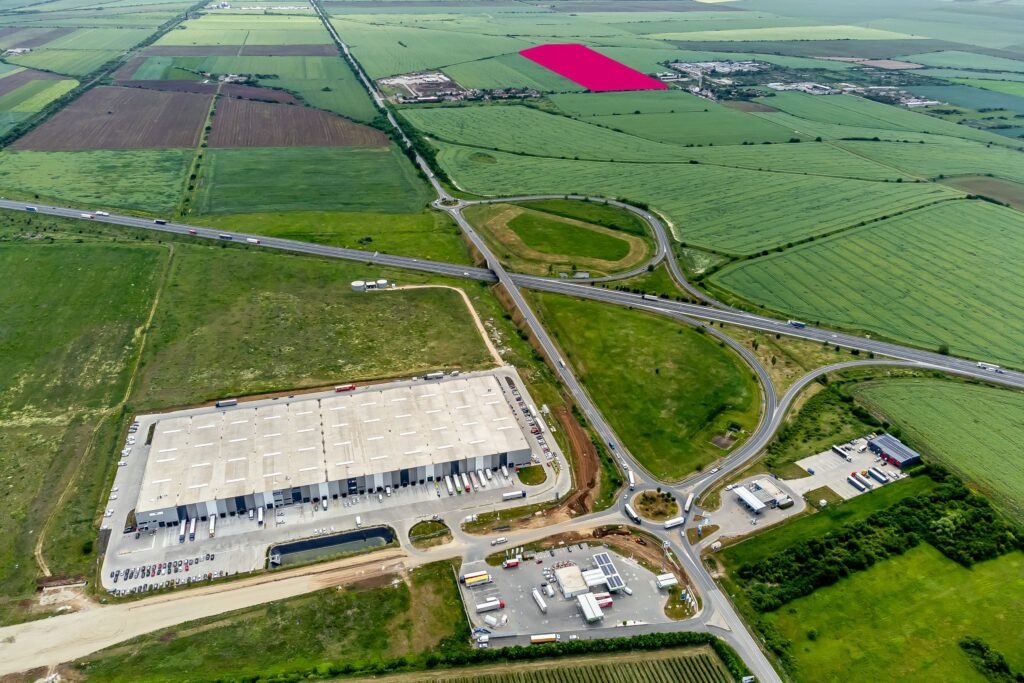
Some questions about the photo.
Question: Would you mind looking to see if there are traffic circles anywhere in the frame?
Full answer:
Yes, this view includes a traffic circle.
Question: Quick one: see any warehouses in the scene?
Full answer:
Yes, a warehouse can be made out from above.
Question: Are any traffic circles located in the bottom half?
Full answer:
Yes, a traffic circle can be seen in the bottom half.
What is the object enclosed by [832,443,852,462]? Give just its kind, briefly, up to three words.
vehicle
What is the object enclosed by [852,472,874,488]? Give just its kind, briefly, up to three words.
vehicle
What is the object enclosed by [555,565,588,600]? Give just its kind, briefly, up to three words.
building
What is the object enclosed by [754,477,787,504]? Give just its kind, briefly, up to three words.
building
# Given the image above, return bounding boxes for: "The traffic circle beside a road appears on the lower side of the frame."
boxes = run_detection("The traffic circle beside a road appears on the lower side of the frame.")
[618,478,696,533]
